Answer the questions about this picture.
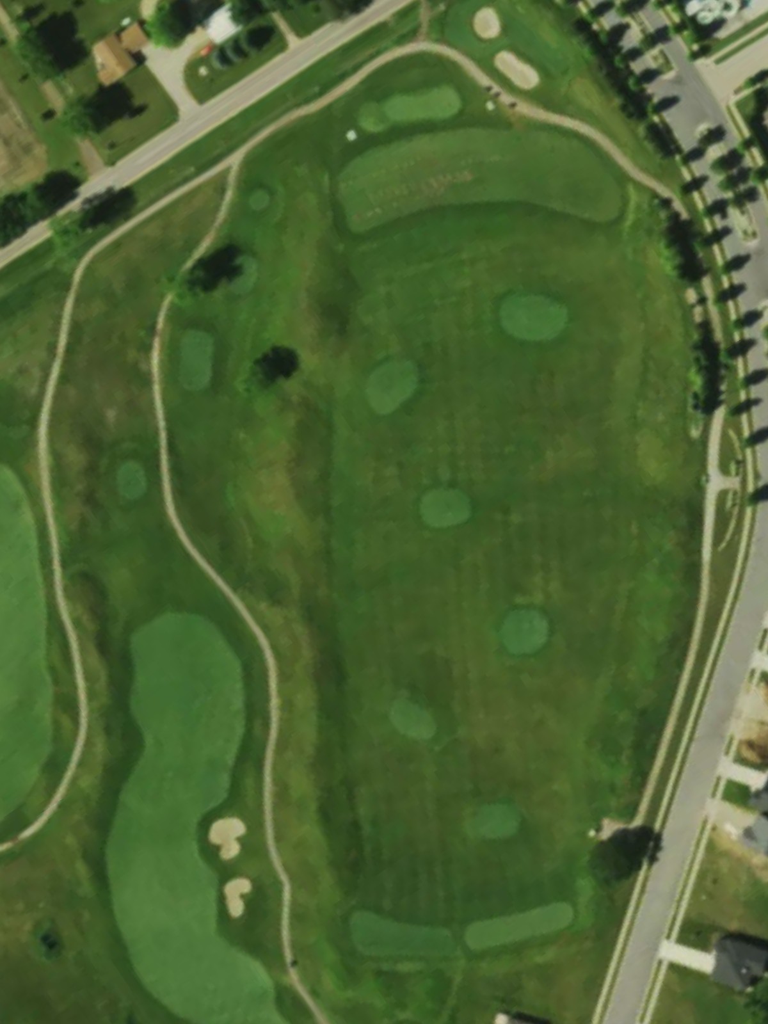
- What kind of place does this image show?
golf course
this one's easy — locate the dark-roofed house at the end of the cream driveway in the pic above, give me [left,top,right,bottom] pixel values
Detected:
[713,937,768,988]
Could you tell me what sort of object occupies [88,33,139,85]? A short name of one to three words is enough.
house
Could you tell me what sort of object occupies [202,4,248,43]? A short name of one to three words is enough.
house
